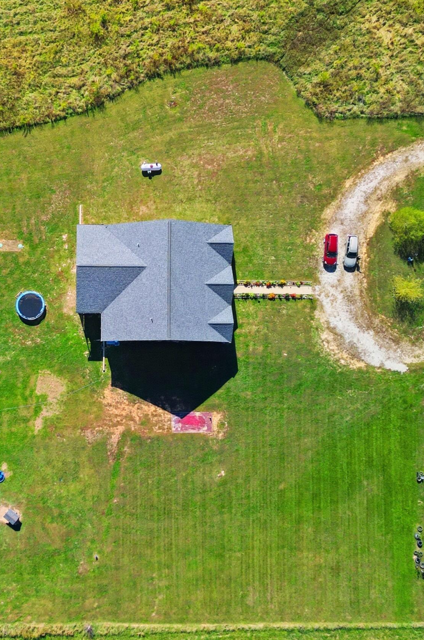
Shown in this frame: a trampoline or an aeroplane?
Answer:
trampoline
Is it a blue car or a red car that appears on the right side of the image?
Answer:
red car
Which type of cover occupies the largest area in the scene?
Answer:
grass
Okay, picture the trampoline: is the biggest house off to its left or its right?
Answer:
to the right of it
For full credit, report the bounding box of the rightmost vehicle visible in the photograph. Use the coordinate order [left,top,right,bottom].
[341,233,359,268]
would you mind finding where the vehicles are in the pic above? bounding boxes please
[341,233,359,268]
[323,233,341,264]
